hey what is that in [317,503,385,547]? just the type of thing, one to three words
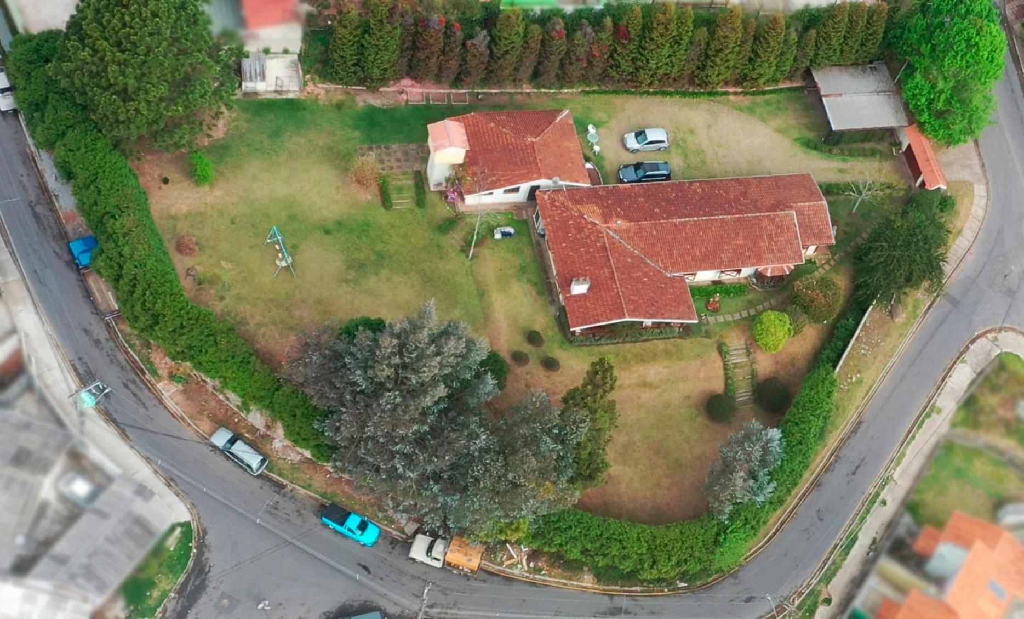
truck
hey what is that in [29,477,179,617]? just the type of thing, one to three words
house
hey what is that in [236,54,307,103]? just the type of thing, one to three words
shed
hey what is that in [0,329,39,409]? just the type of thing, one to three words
house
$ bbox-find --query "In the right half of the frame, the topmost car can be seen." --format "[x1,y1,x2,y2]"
[620,127,673,156]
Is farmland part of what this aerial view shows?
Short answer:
No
